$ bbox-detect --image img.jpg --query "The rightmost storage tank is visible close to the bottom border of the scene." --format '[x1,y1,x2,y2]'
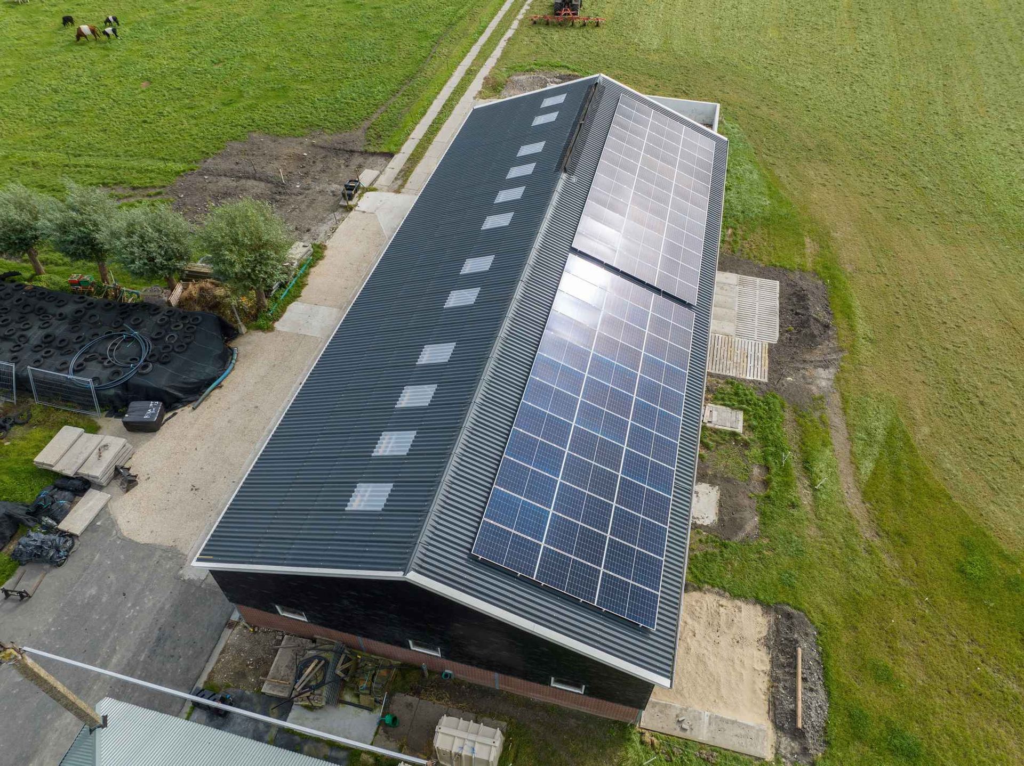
[432,718,498,766]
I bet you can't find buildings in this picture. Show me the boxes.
[58,696,338,766]
[186,72,731,725]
